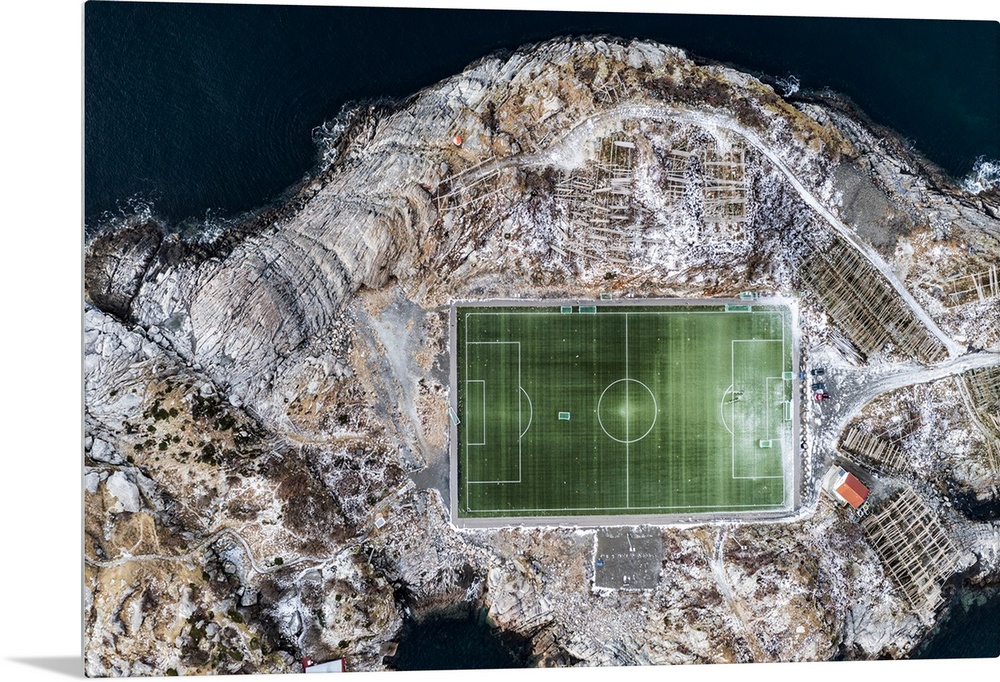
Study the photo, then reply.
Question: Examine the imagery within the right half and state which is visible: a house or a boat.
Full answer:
Looking within the right half, you will find a house.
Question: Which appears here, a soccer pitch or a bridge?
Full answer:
There is a soccer pitch in the scene.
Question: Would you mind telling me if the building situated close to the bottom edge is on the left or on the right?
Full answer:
The building situated close to the bottom edge sits on the left side.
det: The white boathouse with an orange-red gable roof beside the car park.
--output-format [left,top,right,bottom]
[821,463,870,508]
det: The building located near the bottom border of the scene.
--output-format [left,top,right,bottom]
[301,652,357,682]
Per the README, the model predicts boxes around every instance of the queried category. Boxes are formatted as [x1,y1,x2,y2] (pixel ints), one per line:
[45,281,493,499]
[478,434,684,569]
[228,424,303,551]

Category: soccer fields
[450,298,800,527]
